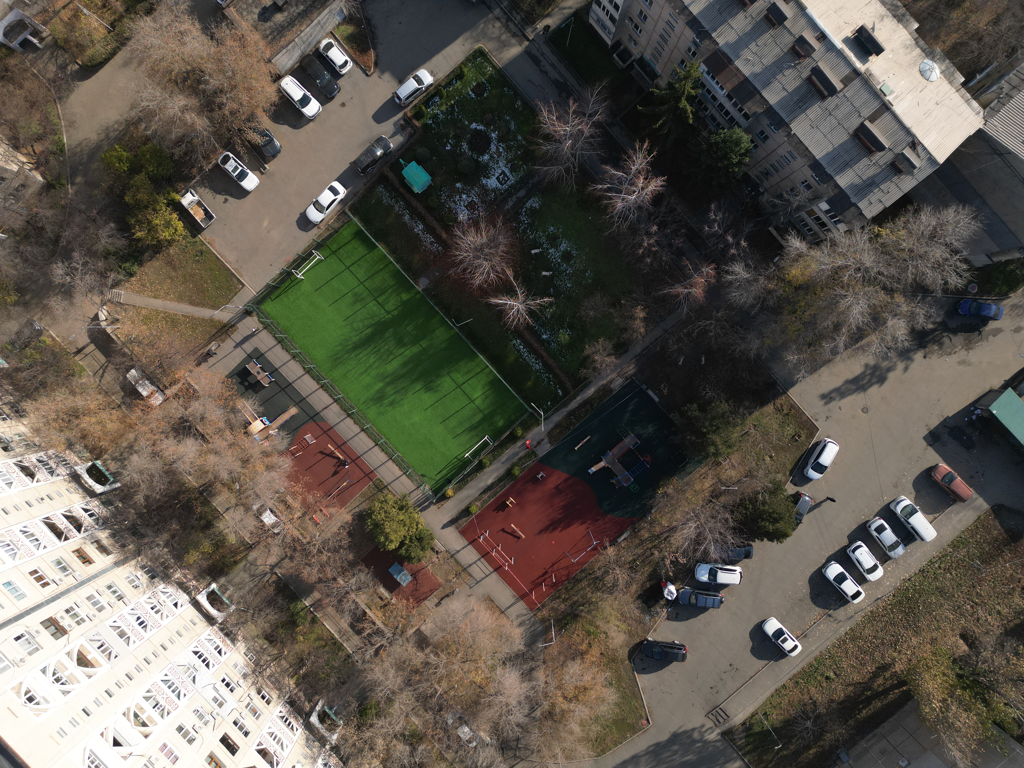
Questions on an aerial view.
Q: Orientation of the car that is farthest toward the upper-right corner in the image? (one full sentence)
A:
What the image shows is the car that is farthest toward the upper-right corner lying from left to right.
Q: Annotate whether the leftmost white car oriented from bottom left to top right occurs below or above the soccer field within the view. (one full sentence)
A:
The leftmost white car oriented from bottom left to top right is found above the soccer field in the photo.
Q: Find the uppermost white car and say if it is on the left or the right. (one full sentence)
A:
The uppermost white car appears in the left half of the scene.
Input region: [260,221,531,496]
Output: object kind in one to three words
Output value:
soccer field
